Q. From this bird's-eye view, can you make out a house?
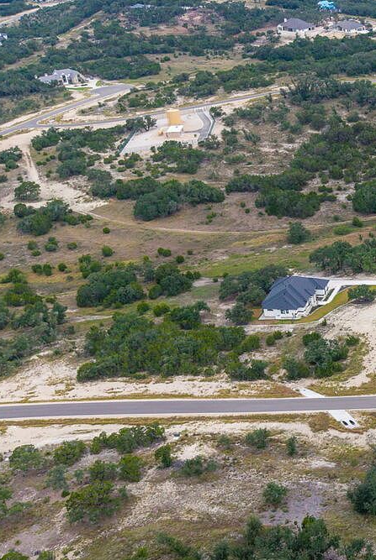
Yes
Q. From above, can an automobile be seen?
No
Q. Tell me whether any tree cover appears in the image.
Yes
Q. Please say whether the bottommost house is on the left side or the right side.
right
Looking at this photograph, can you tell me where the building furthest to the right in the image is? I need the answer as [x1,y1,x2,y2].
[332,20,371,34]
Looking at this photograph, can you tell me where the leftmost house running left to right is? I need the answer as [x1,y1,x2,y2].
[46,69,91,85]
